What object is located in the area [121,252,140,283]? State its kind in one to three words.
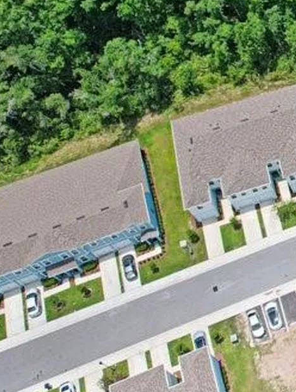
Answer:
car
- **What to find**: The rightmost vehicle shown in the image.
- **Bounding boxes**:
[265,300,282,332]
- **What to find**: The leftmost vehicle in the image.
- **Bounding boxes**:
[25,288,44,319]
